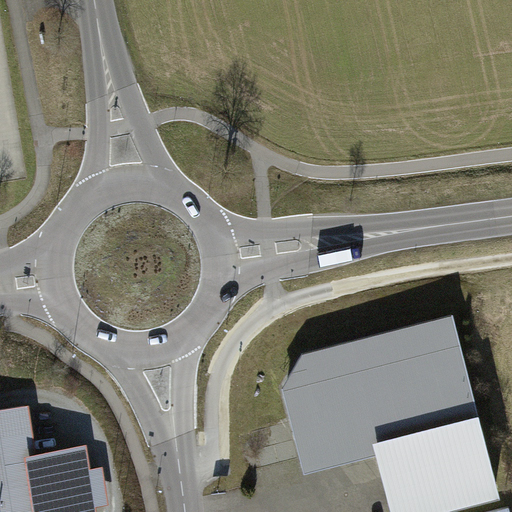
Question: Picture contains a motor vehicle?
Yes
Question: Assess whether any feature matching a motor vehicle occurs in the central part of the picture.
Yes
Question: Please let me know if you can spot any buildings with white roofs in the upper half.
No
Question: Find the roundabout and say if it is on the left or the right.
left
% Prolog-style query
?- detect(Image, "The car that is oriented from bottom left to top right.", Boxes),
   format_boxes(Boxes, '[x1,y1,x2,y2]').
[219,284,238,304]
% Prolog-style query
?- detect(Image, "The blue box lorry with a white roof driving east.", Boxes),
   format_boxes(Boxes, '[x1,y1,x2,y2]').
[318,246,363,268]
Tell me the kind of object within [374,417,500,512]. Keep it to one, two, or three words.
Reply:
building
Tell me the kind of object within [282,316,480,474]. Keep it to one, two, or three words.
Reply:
building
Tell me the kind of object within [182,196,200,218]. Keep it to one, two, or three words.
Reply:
car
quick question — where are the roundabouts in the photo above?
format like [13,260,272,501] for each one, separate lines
[0,83,312,446]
